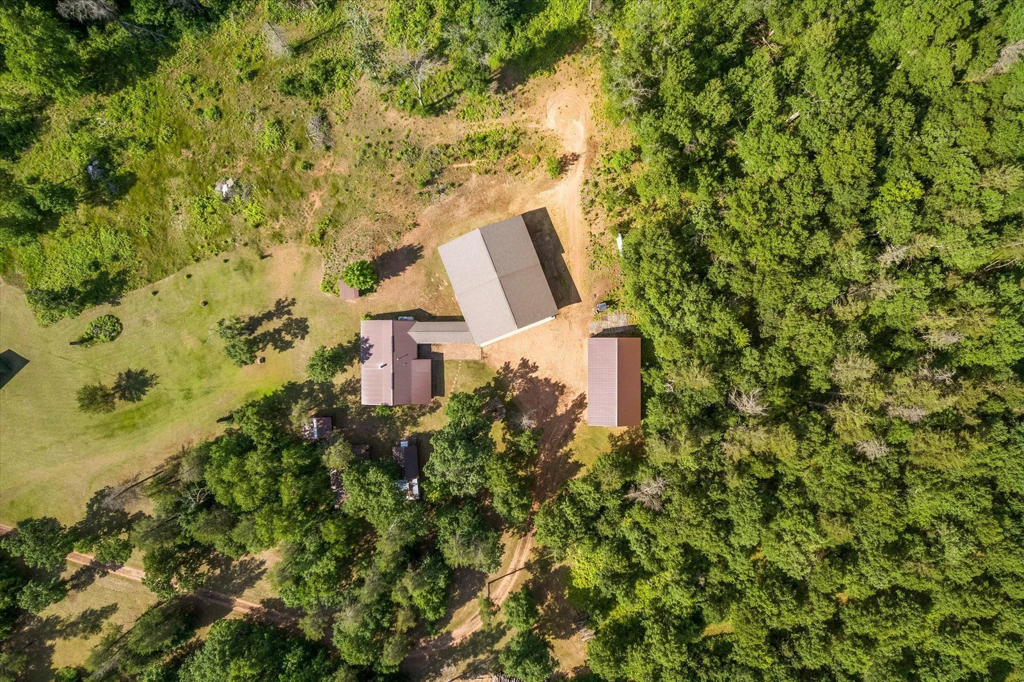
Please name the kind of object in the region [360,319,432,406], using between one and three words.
house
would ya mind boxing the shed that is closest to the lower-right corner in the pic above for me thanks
[587,337,641,427]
